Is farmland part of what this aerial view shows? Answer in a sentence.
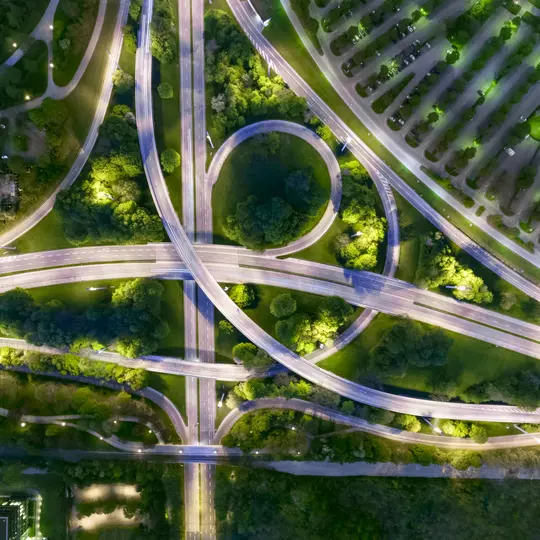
No, no farmland is visible.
